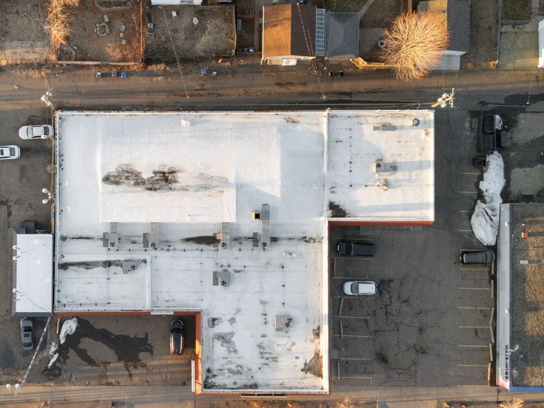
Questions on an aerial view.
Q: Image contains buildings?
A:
Yes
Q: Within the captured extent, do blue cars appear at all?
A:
No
